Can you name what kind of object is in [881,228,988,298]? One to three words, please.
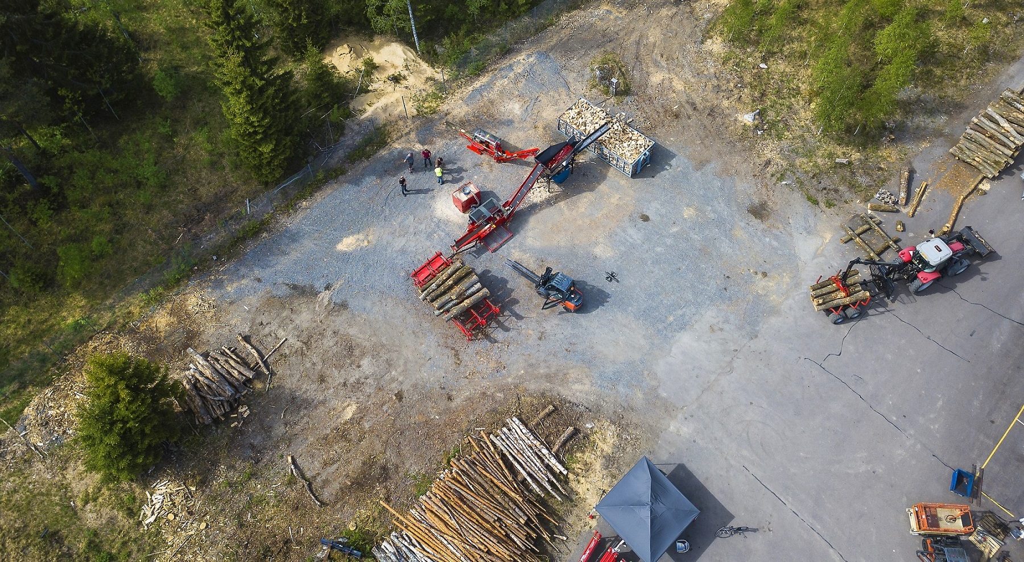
work vehicle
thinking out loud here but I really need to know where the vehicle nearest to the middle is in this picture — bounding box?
[506,263,585,313]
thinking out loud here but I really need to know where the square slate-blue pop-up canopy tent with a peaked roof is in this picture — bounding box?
[591,456,700,562]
